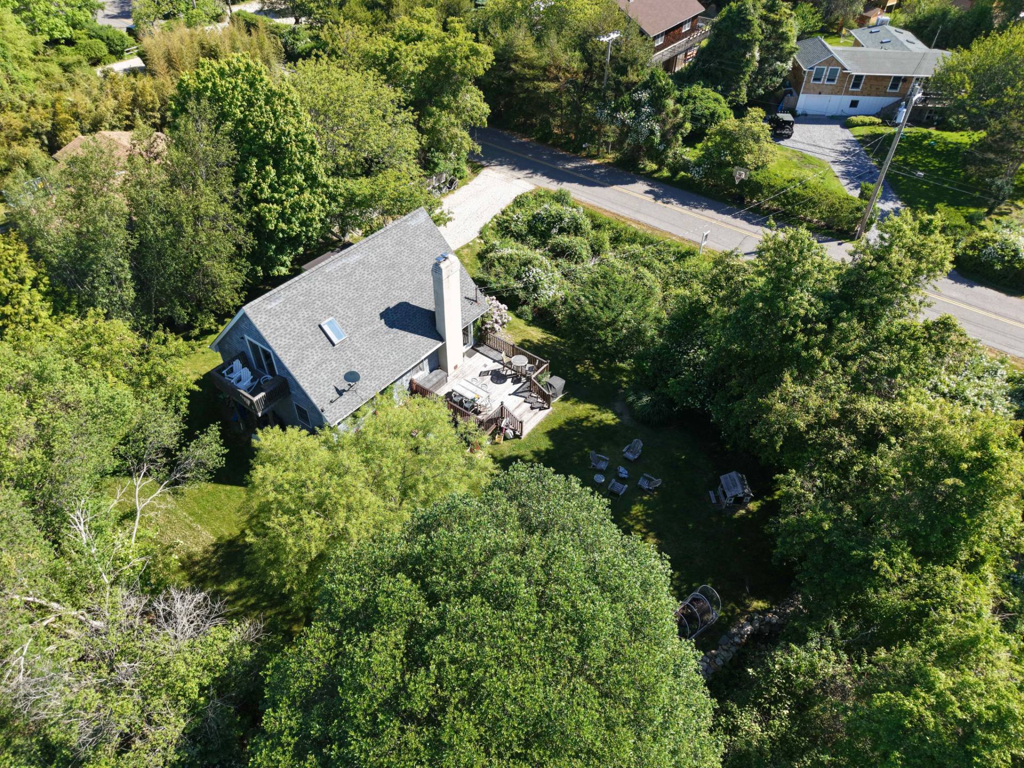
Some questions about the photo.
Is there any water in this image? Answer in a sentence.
No, there's no water in this view.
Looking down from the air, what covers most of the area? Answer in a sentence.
Most of the picture is covered by trees.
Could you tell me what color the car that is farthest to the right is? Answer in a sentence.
The car that is farthest to the right is black.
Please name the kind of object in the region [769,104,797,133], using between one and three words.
car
